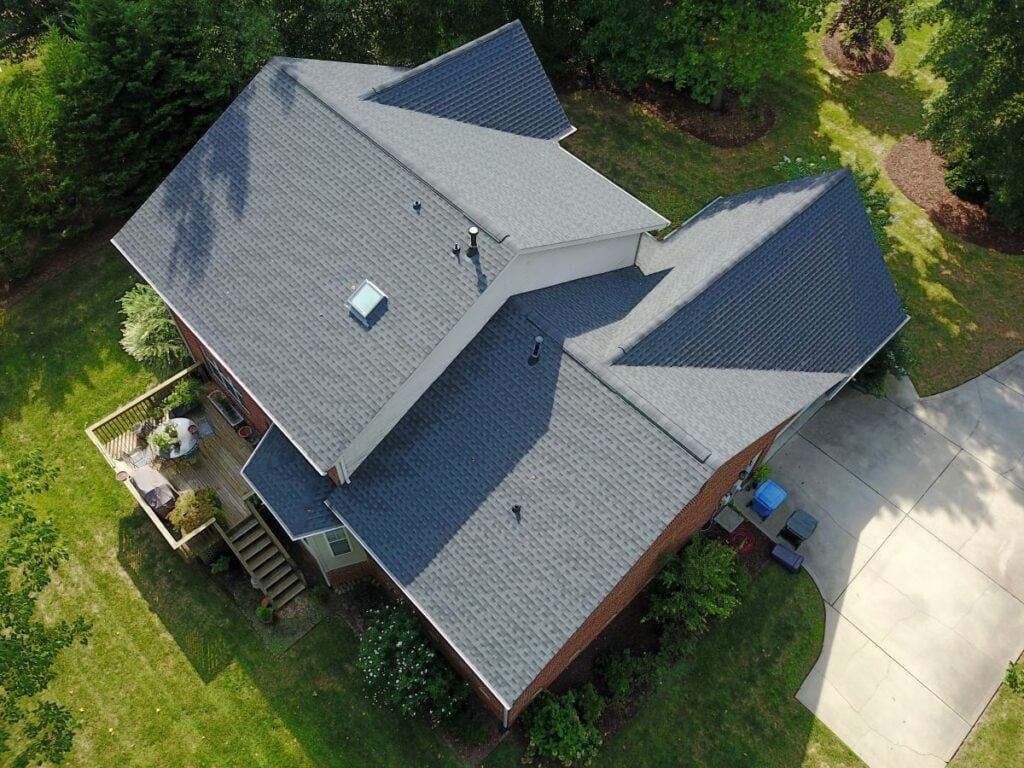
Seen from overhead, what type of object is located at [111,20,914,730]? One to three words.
house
